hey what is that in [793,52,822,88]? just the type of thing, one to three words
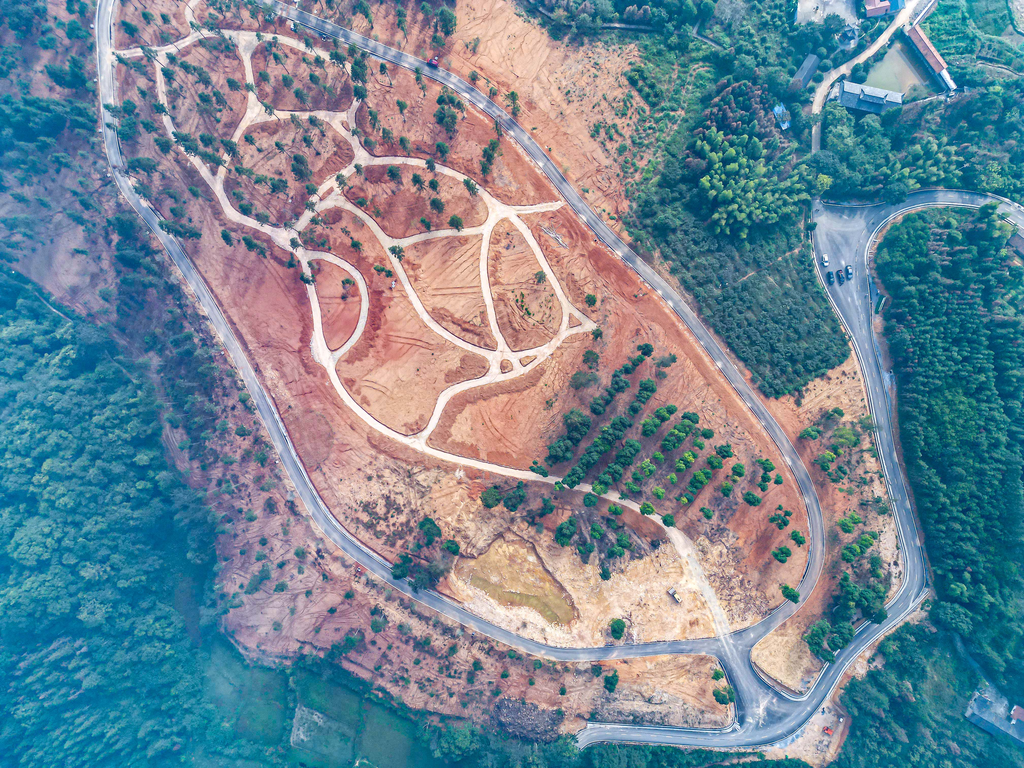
shed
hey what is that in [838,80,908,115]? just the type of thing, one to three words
building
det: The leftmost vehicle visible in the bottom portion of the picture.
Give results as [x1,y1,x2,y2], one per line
[669,588,683,604]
